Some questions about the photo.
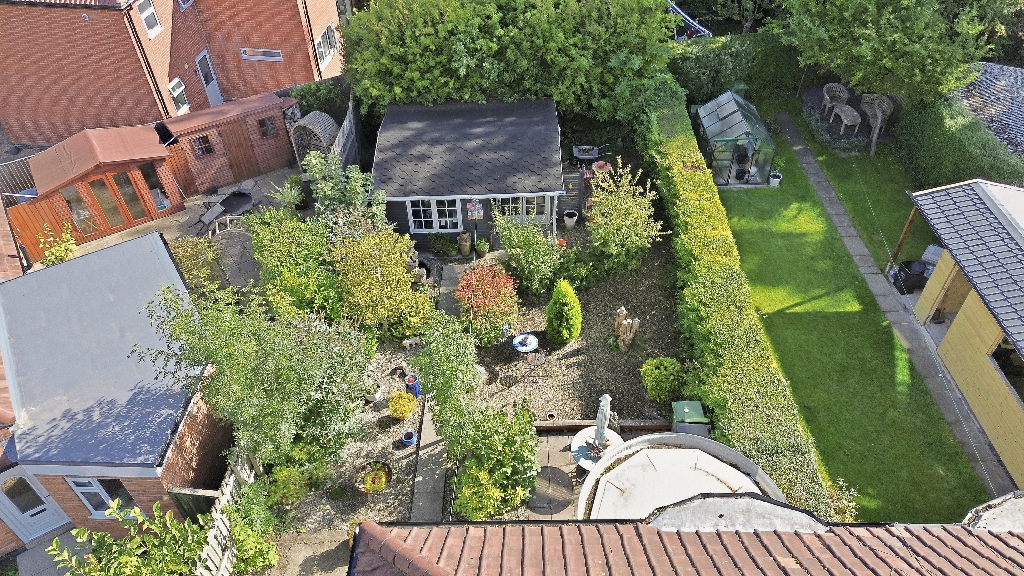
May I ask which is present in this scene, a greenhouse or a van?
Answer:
greenhouse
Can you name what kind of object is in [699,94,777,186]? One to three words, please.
greenhouse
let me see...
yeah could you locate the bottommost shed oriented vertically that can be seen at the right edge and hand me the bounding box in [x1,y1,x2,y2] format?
[886,176,1024,489]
